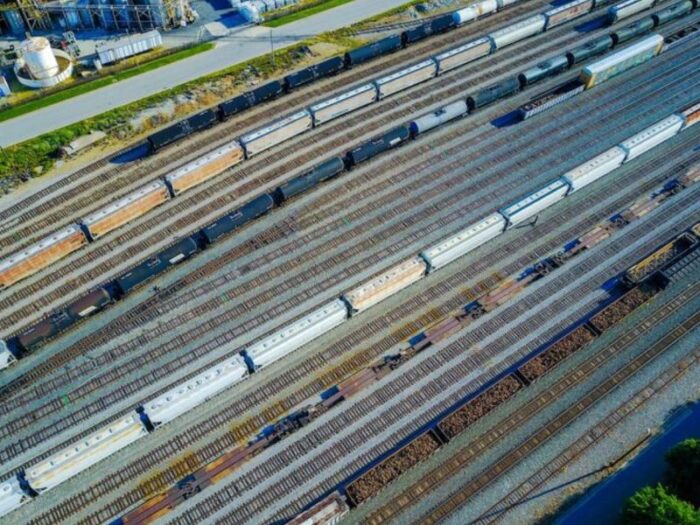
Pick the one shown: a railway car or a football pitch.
railway car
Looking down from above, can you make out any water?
No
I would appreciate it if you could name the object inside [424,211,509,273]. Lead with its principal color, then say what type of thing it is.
white rail car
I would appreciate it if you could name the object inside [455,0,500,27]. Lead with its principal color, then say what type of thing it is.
white rail car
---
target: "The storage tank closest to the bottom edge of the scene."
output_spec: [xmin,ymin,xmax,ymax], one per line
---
[19,31,63,79]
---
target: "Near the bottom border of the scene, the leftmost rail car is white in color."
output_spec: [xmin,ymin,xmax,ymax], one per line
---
[0,473,32,517]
